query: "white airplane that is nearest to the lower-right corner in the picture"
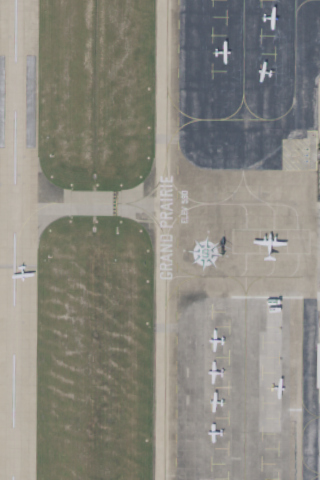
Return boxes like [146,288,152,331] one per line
[272,378,285,400]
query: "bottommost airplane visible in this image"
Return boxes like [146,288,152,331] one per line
[208,423,223,444]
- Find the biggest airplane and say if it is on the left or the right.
right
